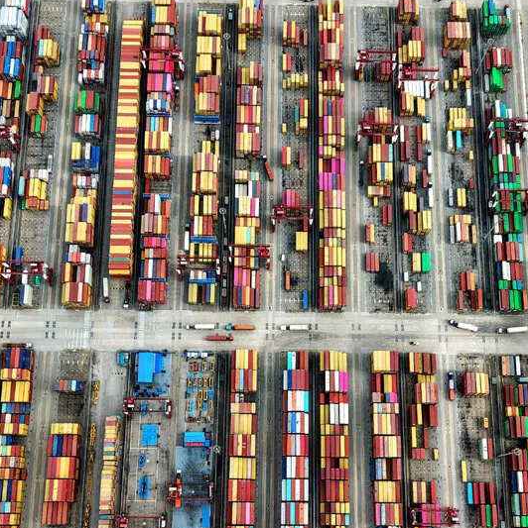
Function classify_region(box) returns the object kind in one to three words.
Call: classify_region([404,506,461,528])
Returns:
container crane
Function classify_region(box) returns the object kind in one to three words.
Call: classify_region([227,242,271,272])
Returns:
container crane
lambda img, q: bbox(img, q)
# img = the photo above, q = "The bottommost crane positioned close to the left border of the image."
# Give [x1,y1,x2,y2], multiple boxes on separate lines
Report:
[0,258,52,288]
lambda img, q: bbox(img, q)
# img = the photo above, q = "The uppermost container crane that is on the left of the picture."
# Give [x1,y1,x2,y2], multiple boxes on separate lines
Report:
[140,47,187,81]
